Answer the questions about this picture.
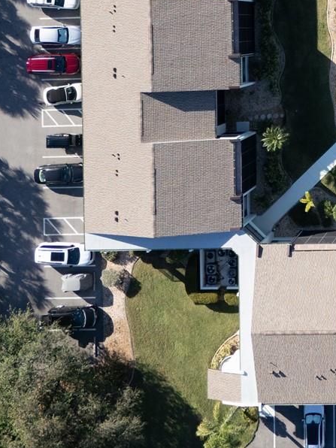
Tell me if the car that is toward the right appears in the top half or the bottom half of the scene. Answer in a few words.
bottom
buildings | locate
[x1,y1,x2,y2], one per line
[80,0,260,238]
[251,228,336,405]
